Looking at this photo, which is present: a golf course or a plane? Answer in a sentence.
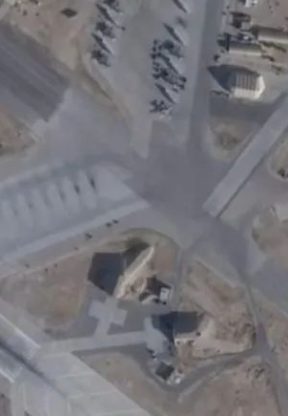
I can see a plane in this picture.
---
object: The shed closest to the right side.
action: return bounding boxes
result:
[259,26,288,41]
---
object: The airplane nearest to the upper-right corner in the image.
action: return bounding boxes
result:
[165,40,183,57]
